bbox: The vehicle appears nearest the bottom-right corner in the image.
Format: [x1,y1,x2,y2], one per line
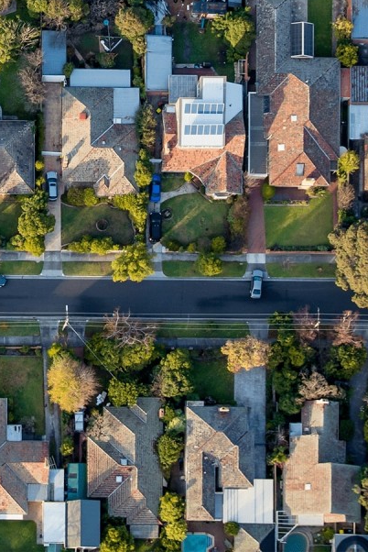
[250,270,264,299]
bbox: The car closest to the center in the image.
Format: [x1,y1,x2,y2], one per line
[149,213,162,244]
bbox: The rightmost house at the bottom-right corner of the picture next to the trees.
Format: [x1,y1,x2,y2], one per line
[282,397,362,527]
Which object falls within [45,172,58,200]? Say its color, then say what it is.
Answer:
blue vehicle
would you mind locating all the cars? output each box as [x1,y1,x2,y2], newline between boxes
[250,270,264,299]
[150,175,163,203]
[149,213,162,244]
[45,172,58,200]
[0,276,6,289]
